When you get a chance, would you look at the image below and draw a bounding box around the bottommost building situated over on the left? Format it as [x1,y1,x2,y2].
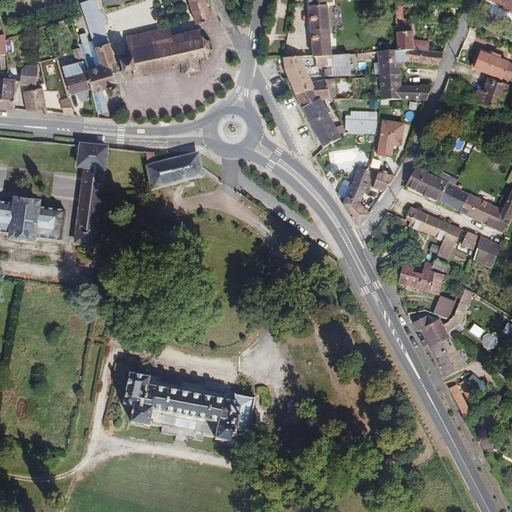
[122,372,254,445]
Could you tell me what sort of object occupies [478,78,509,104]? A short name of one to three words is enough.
house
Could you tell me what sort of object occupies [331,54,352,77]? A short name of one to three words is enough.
building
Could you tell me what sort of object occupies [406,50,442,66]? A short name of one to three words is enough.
barn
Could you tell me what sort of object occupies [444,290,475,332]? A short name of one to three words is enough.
shed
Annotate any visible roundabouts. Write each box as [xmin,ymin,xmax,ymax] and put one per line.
[218,114,248,144]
